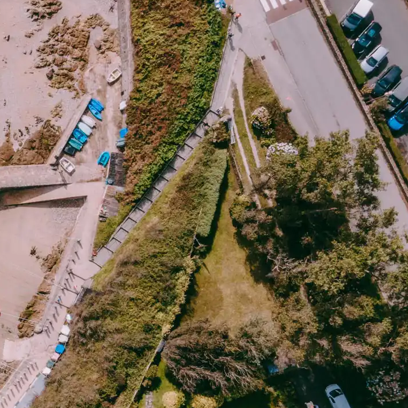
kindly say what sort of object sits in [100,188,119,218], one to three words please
shed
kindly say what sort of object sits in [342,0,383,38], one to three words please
van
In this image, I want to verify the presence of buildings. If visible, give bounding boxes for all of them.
[106,152,125,187]
[100,188,119,218]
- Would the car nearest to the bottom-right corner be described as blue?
Yes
